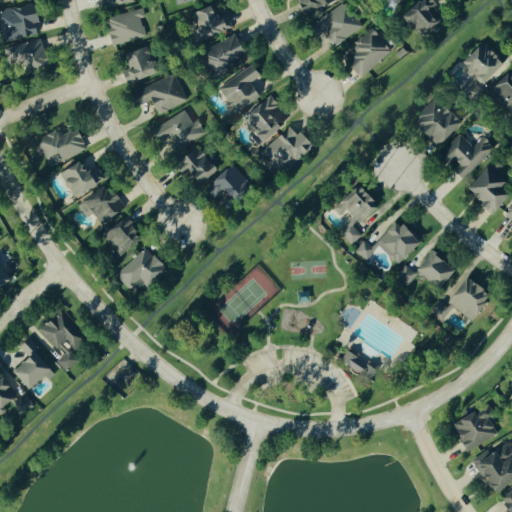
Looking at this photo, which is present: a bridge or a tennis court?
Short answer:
tennis court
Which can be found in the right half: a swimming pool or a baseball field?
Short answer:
swimming pool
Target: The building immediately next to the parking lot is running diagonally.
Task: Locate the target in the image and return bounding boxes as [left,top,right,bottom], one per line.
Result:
[340,348,379,382]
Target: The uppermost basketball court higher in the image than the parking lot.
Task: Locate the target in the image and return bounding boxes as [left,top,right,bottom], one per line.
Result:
[292,261,327,280]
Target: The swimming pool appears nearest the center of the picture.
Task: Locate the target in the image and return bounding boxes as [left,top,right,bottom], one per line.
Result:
[326,209,351,233]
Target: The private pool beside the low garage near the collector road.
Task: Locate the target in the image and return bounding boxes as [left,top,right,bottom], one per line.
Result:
[447,310,470,332]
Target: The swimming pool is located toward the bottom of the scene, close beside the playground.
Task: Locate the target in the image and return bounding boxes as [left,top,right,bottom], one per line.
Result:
[338,301,418,371]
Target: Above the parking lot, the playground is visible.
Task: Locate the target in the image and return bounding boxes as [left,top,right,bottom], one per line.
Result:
[282,308,323,334]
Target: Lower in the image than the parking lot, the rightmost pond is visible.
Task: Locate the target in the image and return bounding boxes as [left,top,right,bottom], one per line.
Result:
[265,454,421,512]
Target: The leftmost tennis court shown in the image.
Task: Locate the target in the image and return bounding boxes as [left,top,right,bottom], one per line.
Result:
[210,264,280,334]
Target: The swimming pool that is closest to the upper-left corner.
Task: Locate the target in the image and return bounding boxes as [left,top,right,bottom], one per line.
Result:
[50,172,74,206]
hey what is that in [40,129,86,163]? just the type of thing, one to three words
house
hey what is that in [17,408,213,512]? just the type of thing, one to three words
pond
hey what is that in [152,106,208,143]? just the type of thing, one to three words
house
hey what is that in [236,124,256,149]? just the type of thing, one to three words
swimming pool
